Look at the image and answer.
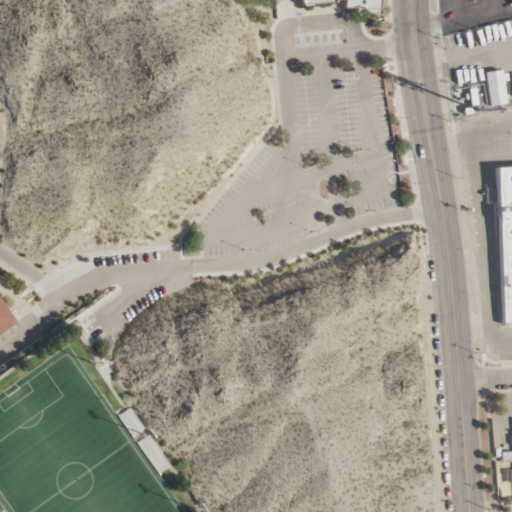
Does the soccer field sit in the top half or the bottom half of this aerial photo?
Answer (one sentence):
You can find the soccer field in the bottom half.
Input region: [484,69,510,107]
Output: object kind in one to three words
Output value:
shed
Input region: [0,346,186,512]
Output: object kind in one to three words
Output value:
soccer field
